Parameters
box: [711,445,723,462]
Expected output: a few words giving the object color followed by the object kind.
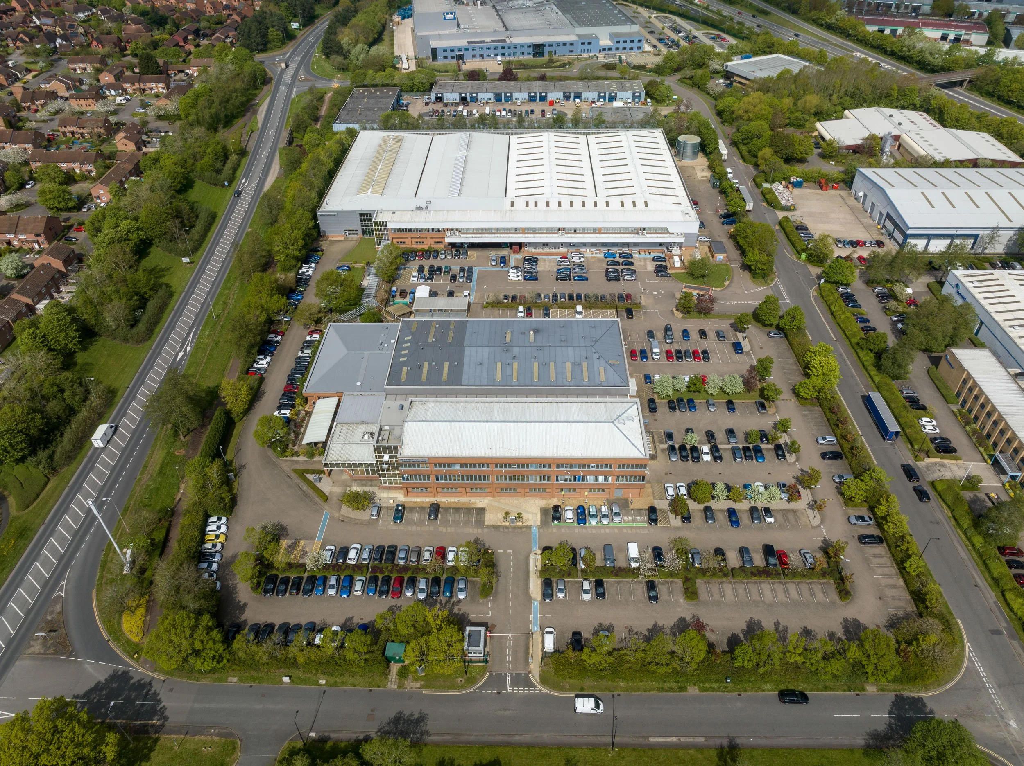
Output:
black vehicle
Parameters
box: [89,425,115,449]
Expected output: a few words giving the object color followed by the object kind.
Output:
white truck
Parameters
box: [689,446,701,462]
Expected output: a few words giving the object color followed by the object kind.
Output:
black vehicle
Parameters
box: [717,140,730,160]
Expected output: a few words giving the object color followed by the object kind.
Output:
white vehicle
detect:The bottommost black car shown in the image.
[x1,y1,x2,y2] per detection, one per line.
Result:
[778,689,808,705]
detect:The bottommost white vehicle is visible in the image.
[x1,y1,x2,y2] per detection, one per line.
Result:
[572,696,605,713]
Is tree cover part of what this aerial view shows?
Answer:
Yes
